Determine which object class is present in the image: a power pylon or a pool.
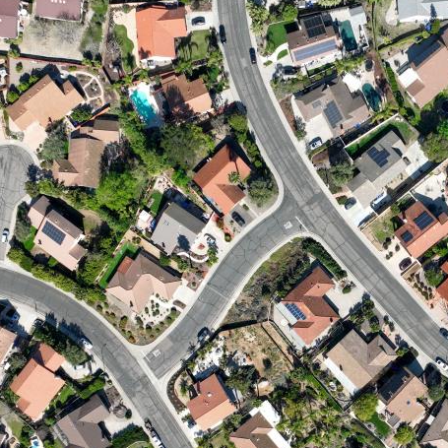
pool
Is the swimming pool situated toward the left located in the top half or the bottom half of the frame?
top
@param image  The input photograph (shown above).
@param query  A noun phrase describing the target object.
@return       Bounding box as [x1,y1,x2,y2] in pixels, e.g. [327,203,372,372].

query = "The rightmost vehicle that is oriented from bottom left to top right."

[398,255,414,270]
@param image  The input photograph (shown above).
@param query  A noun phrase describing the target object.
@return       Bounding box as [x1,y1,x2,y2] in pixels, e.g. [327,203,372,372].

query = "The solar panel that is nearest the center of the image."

[286,300,308,322]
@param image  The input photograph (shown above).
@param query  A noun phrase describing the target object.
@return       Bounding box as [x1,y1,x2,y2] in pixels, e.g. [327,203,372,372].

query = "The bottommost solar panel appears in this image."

[379,379,403,403]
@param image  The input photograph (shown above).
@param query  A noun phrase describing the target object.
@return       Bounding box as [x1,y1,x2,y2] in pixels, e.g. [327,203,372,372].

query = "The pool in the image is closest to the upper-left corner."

[129,86,157,124]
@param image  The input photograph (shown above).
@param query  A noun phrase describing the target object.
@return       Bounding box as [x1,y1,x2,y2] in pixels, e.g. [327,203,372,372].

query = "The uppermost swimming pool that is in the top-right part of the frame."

[340,20,358,52]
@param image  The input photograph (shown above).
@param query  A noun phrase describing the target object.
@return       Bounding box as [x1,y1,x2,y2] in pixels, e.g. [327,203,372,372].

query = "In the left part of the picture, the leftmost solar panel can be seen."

[38,220,68,245]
